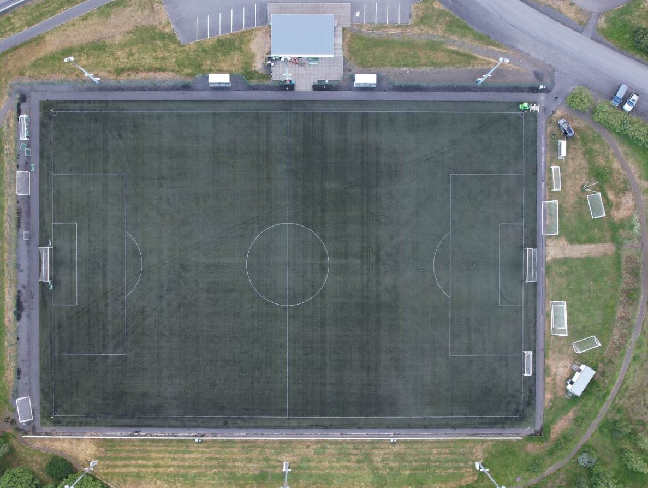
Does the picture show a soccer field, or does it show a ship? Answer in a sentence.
The image shows a soccer field.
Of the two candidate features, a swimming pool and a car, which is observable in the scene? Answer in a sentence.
I can see a car in this picture.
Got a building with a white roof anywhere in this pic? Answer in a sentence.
Yes, a building with a white roof can be made out from above.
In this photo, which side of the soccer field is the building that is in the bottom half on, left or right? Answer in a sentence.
Looking at the photo, the building that is in the bottom half lies to the right of the soccer field.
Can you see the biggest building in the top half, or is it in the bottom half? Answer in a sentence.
The biggest building is in the top half of the image.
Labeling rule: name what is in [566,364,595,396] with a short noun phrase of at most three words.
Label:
building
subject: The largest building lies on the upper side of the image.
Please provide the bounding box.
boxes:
[270,13,336,58]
